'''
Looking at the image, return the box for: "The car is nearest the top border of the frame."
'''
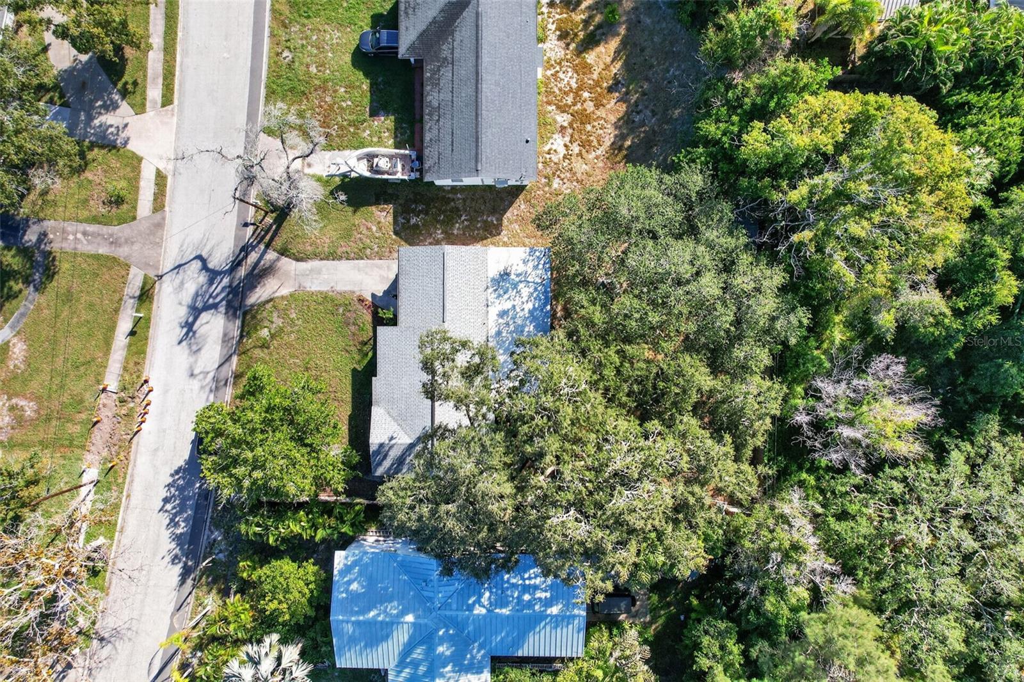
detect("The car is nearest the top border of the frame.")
[361,29,398,62]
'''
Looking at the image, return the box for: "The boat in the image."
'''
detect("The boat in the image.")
[341,148,419,179]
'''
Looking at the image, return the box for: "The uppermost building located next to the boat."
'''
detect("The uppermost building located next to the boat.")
[398,0,537,185]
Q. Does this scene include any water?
No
